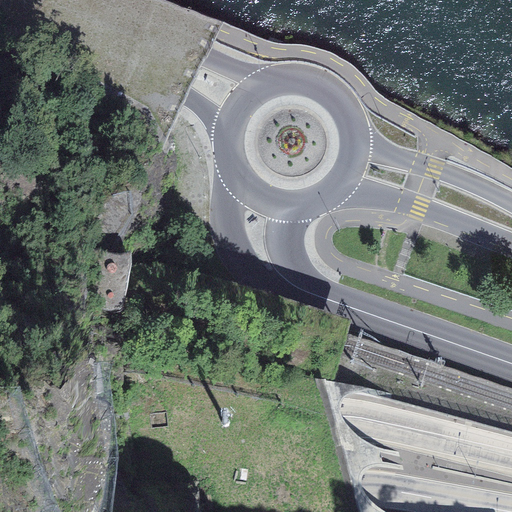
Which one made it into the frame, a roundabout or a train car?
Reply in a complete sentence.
The image shows a roundabout.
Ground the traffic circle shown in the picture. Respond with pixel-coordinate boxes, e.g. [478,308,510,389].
[212,63,372,222]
